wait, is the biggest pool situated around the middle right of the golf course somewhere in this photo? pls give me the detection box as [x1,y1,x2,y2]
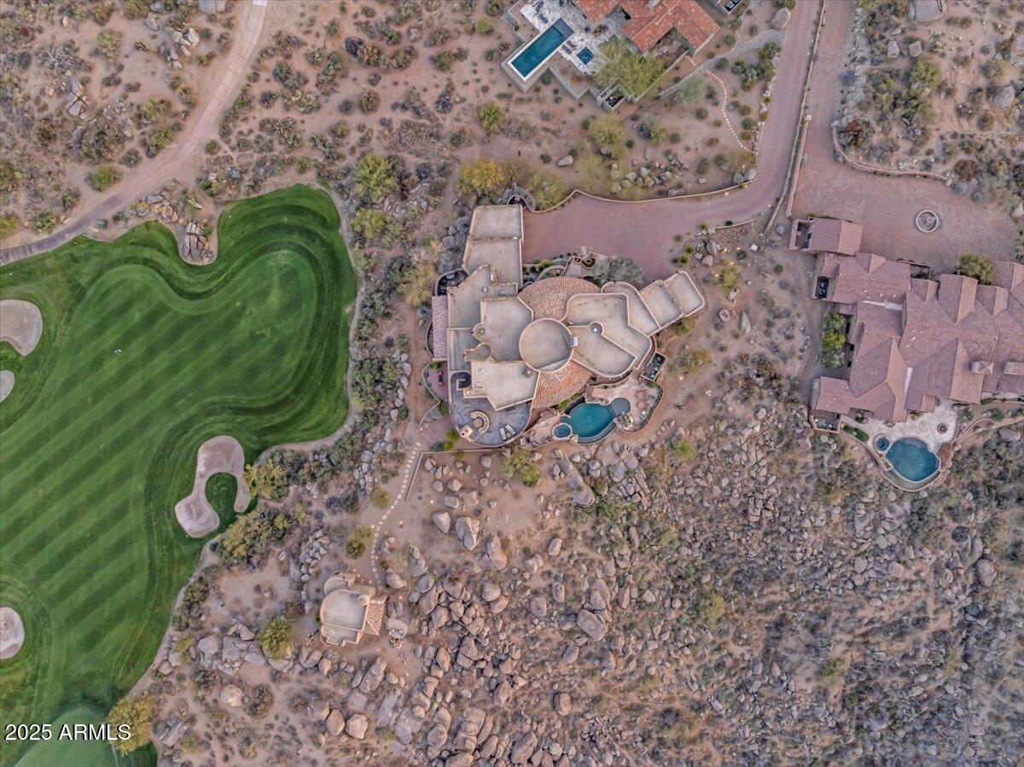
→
[559,395,632,443]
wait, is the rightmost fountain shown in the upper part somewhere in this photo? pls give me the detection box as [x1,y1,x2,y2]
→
[916,209,940,232]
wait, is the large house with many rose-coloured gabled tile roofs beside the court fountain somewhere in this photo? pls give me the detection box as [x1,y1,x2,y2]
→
[784,218,1024,433]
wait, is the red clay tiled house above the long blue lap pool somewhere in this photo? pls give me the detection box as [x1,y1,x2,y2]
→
[568,0,721,99]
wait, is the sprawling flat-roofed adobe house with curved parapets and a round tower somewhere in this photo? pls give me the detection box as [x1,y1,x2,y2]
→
[432,205,704,446]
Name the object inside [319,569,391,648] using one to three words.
house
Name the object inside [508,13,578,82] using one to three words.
swimming pool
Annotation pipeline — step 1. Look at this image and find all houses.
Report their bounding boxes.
[432,205,704,446]
[319,569,391,648]
[784,218,1024,433]
[568,0,721,99]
